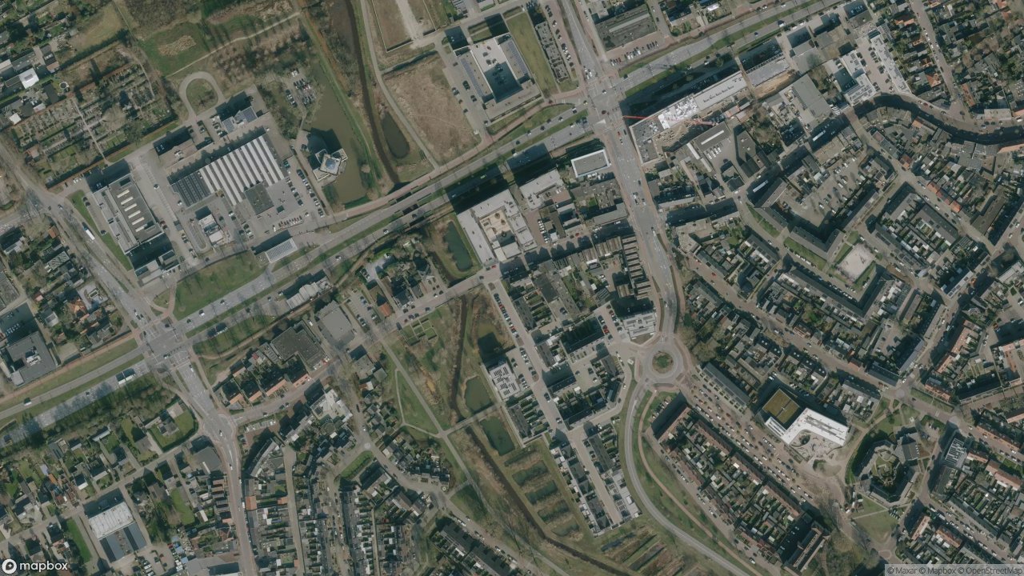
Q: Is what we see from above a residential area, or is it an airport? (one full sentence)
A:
What you see here is a residential area.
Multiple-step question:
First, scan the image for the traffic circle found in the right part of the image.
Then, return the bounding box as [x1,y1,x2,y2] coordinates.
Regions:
[643,342,684,382]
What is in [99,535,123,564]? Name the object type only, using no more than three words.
house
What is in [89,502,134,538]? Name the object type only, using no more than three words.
building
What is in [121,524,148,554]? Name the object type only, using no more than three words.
house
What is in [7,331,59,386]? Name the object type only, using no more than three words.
building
